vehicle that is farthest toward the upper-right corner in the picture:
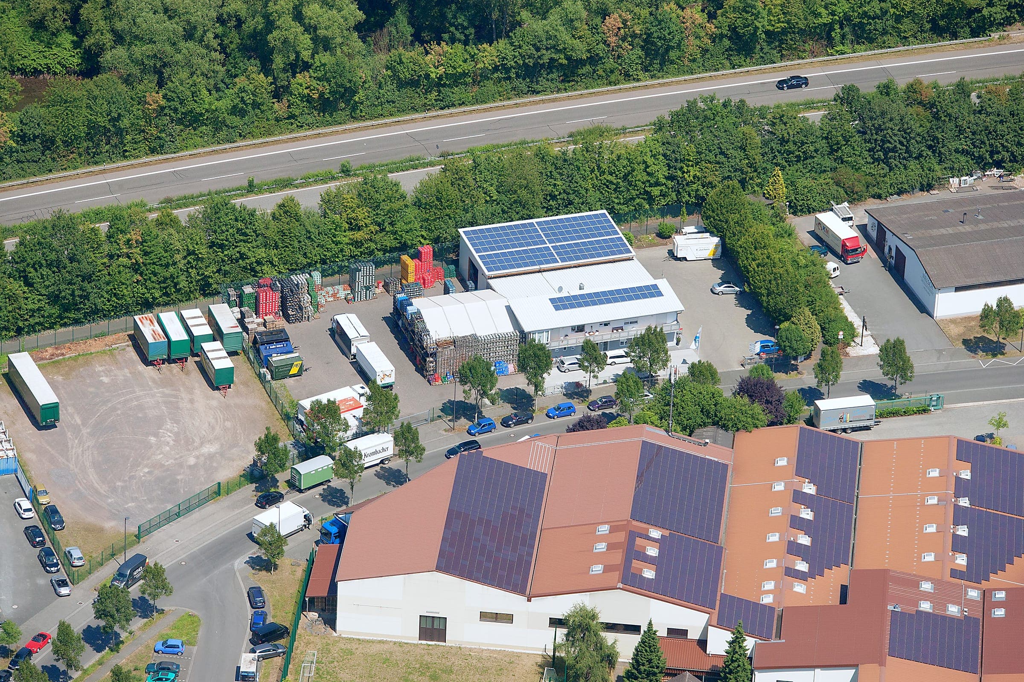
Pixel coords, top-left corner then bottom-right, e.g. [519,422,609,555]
[776,73,810,89]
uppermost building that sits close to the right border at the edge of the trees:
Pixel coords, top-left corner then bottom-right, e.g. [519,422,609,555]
[864,192,1024,318]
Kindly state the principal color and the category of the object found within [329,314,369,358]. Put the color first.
white truck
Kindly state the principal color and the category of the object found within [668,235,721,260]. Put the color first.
white trailer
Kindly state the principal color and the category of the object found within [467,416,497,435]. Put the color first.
blue car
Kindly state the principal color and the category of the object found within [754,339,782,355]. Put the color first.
blue car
